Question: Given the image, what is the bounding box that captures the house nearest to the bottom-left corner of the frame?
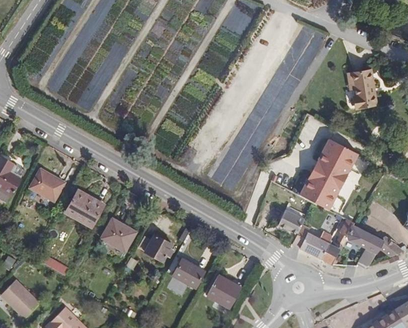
[0,280,38,319]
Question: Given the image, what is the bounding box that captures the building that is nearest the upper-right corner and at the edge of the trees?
[350,69,376,111]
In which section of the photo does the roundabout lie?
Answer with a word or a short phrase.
bottom right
